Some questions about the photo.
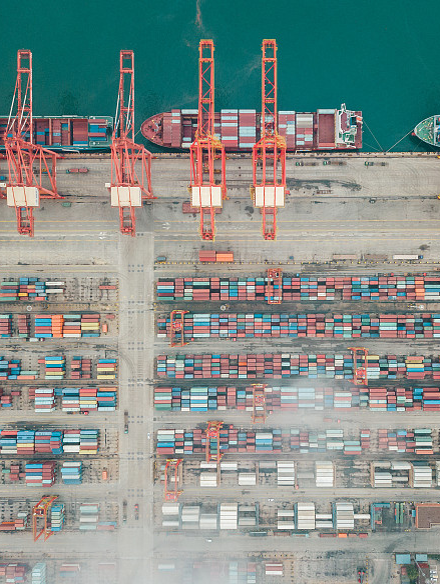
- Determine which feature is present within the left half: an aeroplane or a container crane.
container crane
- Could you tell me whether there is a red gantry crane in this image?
Yes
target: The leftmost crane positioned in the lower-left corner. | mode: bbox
[33,496,61,542]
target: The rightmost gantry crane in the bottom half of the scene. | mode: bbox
[345,349,368,390]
